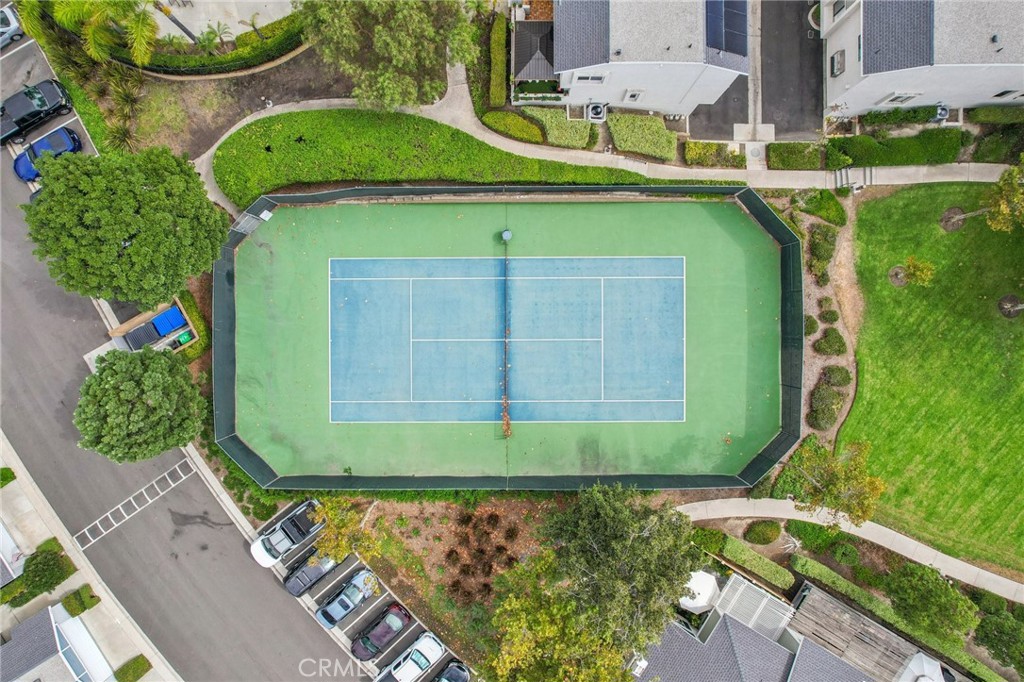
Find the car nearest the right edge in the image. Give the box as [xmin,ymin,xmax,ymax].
[427,655,473,682]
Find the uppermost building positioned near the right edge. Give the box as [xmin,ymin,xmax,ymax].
[821,0,1024,107]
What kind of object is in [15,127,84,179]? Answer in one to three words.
car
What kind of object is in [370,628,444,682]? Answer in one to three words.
truck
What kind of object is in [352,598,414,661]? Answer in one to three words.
car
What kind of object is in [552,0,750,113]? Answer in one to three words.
house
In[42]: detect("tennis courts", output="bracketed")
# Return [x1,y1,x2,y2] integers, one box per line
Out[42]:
[235,197,781,476]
